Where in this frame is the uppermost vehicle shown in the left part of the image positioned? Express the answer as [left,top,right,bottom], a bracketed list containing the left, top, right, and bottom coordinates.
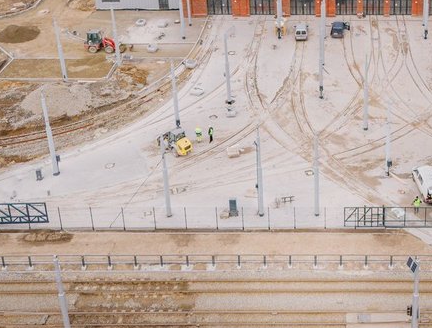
[81,32,120,54]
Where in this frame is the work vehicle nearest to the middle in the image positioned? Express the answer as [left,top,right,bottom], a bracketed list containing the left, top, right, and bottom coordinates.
[154,126,193,156]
